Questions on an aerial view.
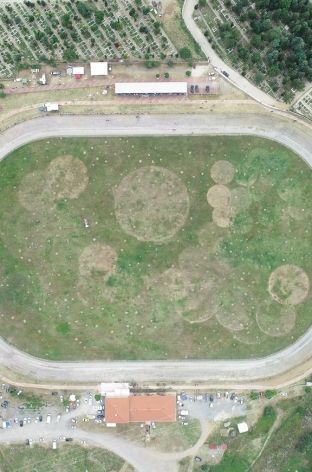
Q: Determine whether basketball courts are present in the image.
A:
No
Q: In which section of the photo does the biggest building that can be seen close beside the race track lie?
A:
bottom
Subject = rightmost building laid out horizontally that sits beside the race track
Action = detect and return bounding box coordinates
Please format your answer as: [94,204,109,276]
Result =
[105,391,176,425]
